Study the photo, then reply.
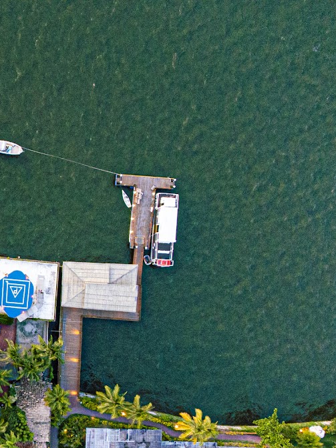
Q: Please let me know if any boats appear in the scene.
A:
Yes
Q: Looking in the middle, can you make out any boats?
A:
Yes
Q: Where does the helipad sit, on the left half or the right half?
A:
left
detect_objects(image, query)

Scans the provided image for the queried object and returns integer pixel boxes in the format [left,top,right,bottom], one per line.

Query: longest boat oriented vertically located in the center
[152,192,183,267]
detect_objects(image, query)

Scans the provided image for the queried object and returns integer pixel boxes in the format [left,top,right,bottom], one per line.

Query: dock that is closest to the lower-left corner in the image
[59,259,143,397]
